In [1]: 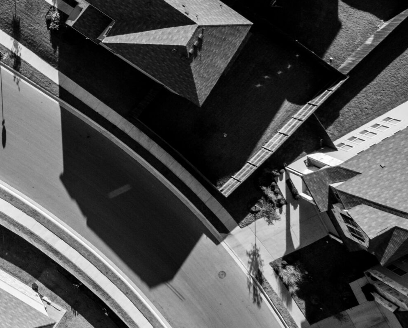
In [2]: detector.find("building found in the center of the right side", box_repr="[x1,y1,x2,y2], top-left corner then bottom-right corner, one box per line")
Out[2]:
[294,104,408,262]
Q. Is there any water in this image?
No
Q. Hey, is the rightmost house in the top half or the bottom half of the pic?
bottom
